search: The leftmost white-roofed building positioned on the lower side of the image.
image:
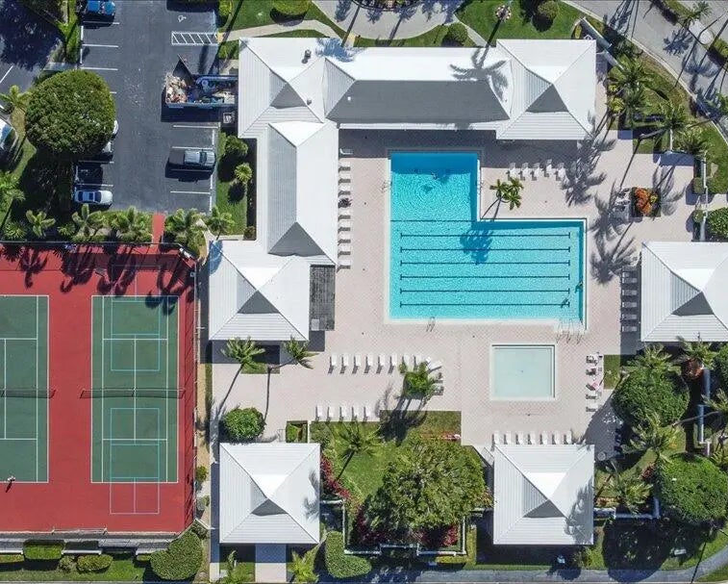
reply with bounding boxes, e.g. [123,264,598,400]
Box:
[220,443,320,543]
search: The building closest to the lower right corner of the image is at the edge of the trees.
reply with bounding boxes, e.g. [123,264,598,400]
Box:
[494,443,594,545]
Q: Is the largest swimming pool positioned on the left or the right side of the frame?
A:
right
